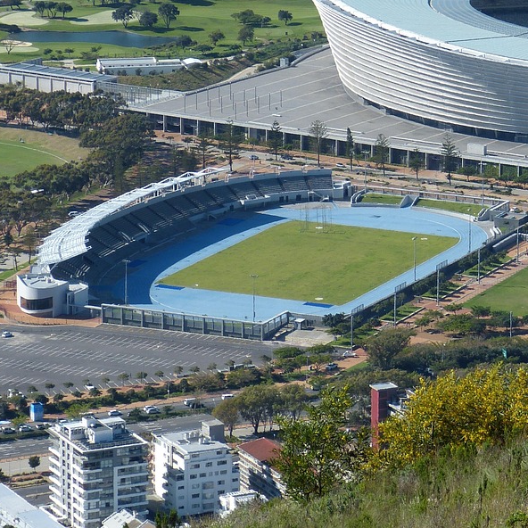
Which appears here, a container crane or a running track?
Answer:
running track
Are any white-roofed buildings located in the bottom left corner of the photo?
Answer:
Yes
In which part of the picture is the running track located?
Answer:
center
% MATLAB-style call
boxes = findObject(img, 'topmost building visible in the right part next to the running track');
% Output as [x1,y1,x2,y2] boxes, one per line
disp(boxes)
[333,179,355,202]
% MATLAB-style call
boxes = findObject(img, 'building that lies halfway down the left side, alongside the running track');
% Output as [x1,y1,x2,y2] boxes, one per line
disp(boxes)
[16,266,106,314]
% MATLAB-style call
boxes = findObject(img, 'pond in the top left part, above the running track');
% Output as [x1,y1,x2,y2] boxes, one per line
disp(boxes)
[11,31,174,46]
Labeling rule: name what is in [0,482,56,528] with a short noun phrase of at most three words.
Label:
building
